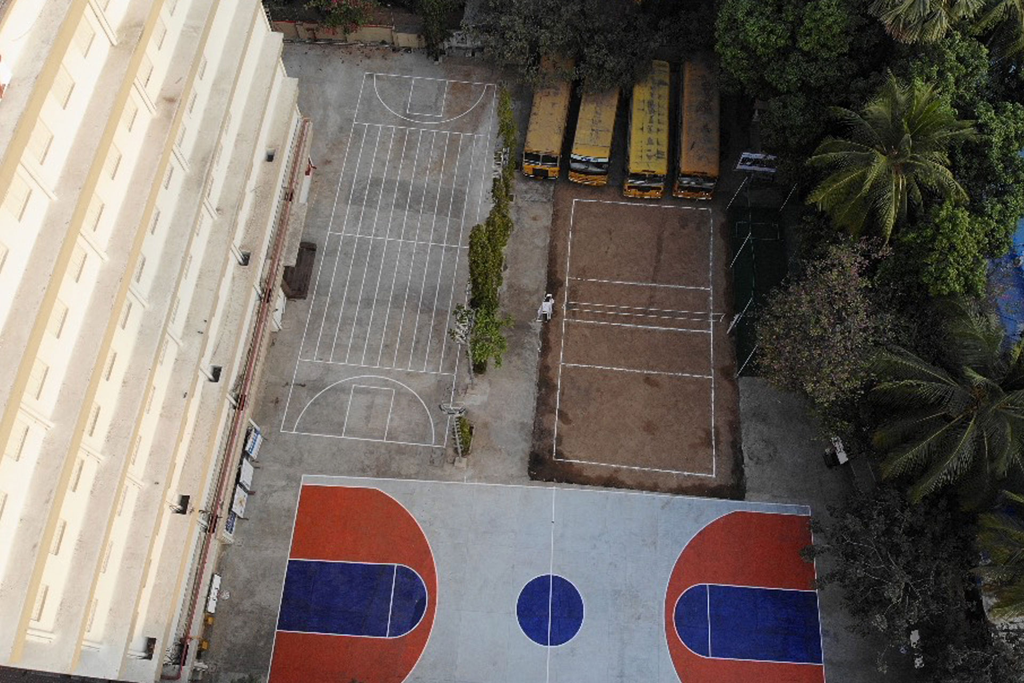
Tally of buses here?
4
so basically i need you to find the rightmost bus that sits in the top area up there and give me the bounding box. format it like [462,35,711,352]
[671,63,720,207]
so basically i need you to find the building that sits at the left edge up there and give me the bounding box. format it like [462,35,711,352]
[0,0,315,683]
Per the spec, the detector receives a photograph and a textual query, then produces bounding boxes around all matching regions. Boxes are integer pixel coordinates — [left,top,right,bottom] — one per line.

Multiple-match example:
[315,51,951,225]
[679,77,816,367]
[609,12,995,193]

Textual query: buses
[520,41,578,182]
[671,63,720,207]
[623,62,670,205]
[566,44,616,188]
